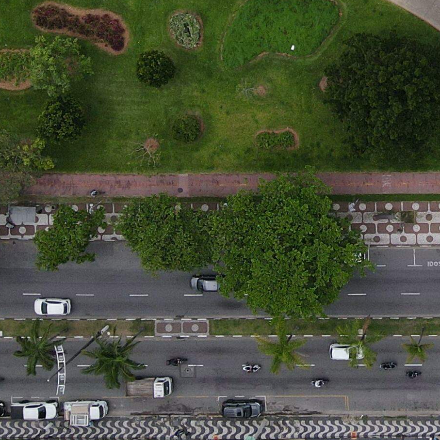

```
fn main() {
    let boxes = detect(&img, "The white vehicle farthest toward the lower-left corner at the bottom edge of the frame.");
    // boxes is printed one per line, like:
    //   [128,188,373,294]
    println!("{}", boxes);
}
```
[11,400,56,421]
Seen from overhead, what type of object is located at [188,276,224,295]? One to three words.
car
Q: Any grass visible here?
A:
Yes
